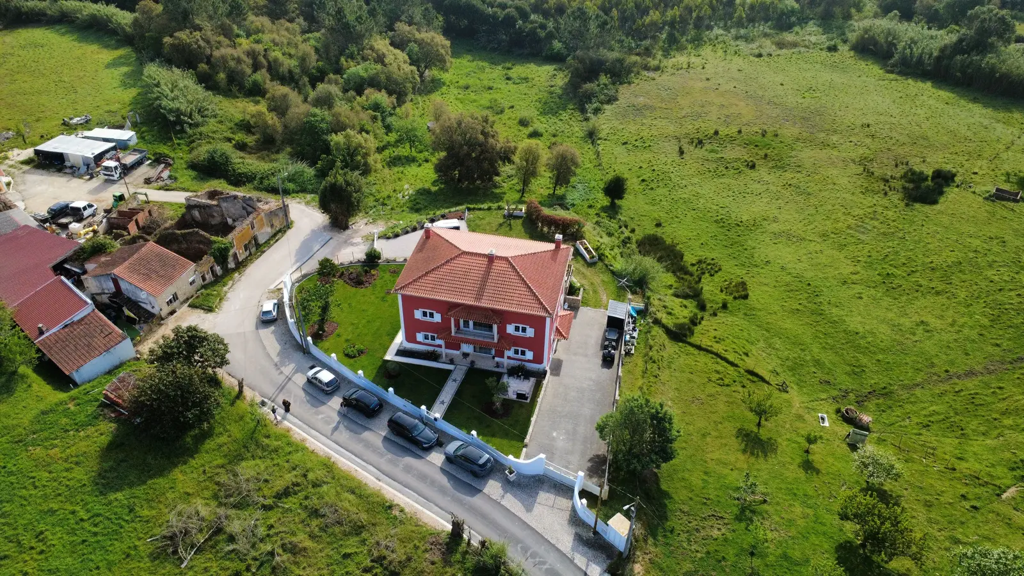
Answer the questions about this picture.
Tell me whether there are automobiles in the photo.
Yes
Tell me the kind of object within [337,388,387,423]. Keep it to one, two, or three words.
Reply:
car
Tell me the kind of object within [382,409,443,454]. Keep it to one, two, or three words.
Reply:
car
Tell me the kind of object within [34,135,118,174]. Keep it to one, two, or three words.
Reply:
shed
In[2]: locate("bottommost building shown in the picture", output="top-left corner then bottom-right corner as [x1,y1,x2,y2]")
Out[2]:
[607,511,630,550]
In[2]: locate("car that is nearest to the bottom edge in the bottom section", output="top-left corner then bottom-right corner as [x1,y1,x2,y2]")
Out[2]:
[440,441,498,482]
